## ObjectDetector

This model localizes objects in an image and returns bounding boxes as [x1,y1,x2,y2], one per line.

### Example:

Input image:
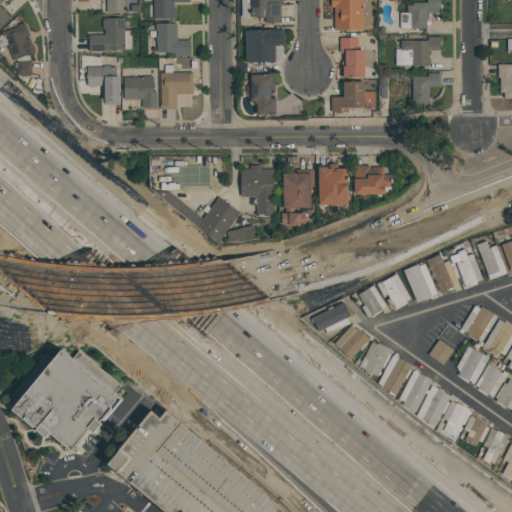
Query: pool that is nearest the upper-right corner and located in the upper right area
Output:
[381,3,394,24]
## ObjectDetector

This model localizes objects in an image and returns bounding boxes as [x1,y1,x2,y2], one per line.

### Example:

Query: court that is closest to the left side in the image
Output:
[170,164,210,186]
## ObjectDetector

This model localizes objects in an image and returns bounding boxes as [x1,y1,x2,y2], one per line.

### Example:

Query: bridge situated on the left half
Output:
[0,239,269,338]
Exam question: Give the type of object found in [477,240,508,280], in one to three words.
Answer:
house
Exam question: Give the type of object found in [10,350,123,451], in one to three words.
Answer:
building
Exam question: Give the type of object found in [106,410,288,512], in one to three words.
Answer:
building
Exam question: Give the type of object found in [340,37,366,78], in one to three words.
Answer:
house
